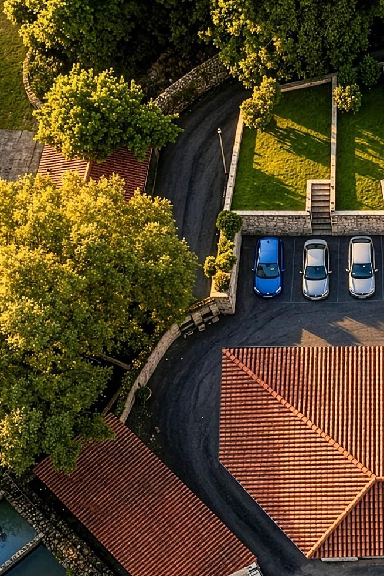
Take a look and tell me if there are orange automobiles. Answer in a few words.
No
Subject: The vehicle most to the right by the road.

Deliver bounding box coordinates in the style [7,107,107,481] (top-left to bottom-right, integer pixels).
[343,236,378,300]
